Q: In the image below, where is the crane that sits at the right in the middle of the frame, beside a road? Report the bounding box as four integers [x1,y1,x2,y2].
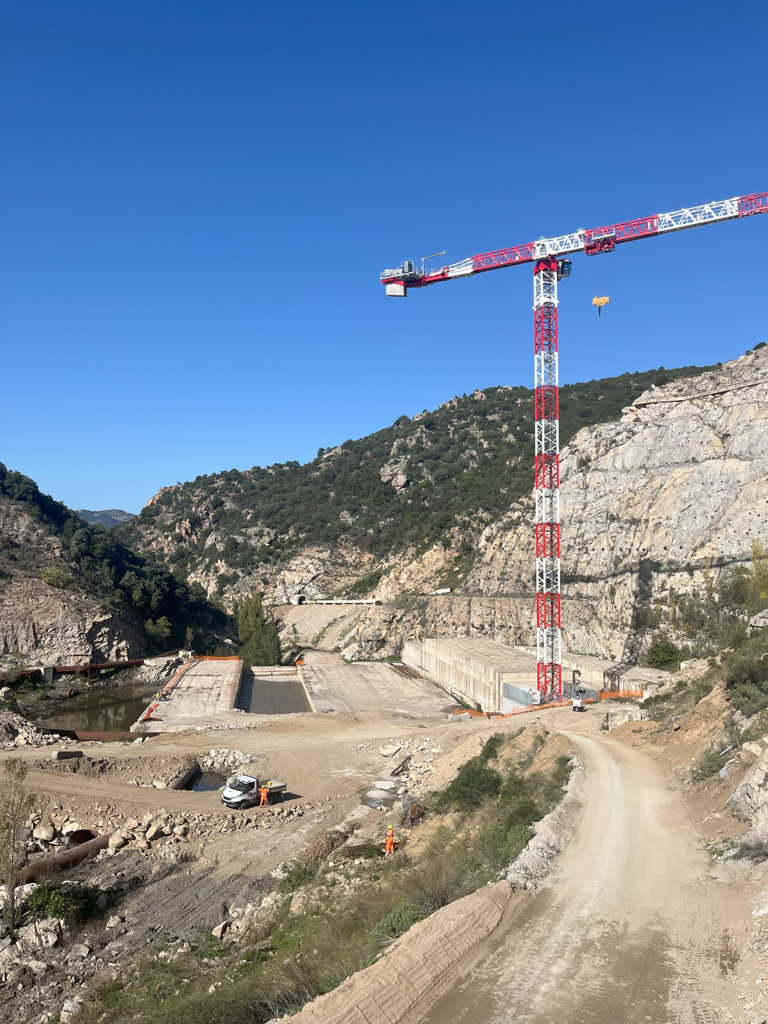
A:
[377,189,768,700]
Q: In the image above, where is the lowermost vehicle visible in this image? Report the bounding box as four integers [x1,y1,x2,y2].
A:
[219,773,285,809]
